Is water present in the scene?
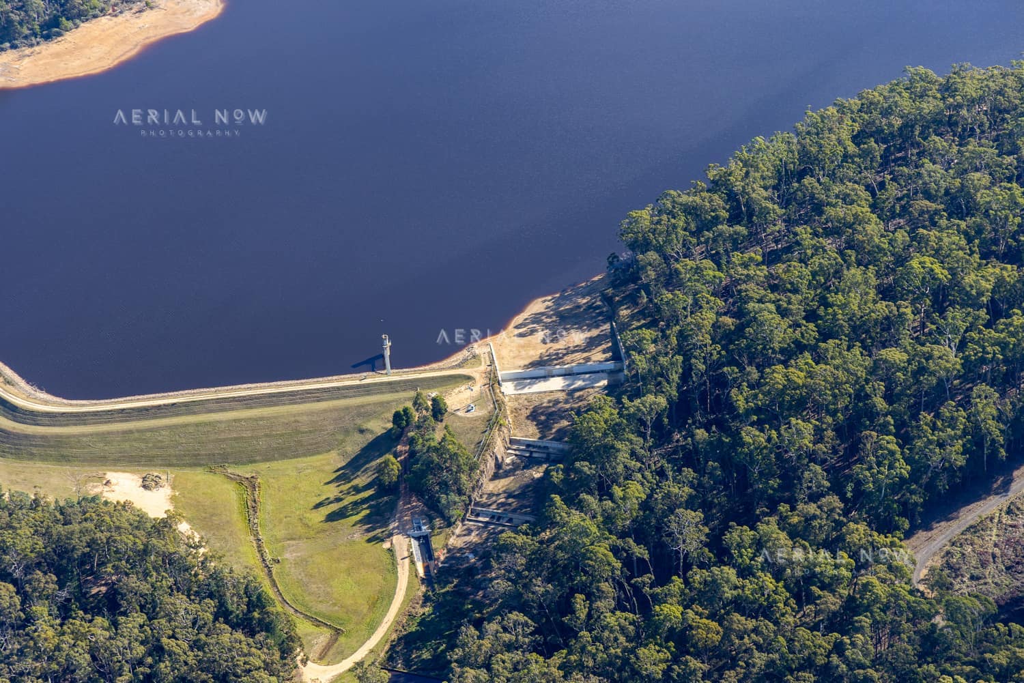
Yes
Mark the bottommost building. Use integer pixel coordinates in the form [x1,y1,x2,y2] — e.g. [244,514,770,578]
[405,513,434,541]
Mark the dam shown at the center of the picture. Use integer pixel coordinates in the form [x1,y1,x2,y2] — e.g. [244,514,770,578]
[501,362,622,386]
